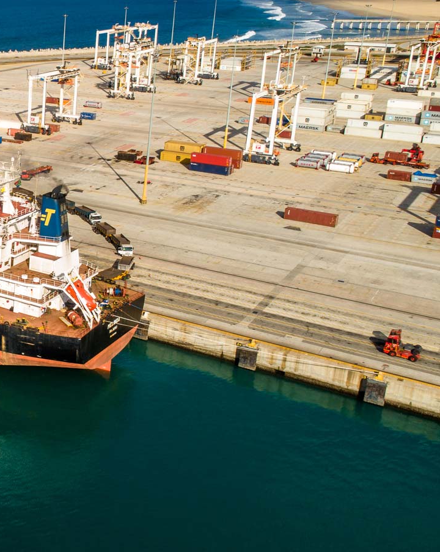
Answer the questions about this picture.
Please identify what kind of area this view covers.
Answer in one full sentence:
This image shows a port.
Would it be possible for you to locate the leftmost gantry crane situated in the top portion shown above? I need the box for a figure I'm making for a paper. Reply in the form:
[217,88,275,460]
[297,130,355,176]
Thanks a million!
[24,62,82,134]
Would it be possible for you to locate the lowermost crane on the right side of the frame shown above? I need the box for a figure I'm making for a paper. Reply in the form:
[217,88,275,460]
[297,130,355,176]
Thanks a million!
[245,80,309,163]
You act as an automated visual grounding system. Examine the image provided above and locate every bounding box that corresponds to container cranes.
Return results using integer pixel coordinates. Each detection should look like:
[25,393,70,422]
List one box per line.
[245,80,309,163]
[175,33,217,82]
[105,36,149,86]
[108,45,155,97]
[125,22,158,63]
[399,37,440,90]
[259,44,302,97]
[24,62,82,134]
[91,27,127,69]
